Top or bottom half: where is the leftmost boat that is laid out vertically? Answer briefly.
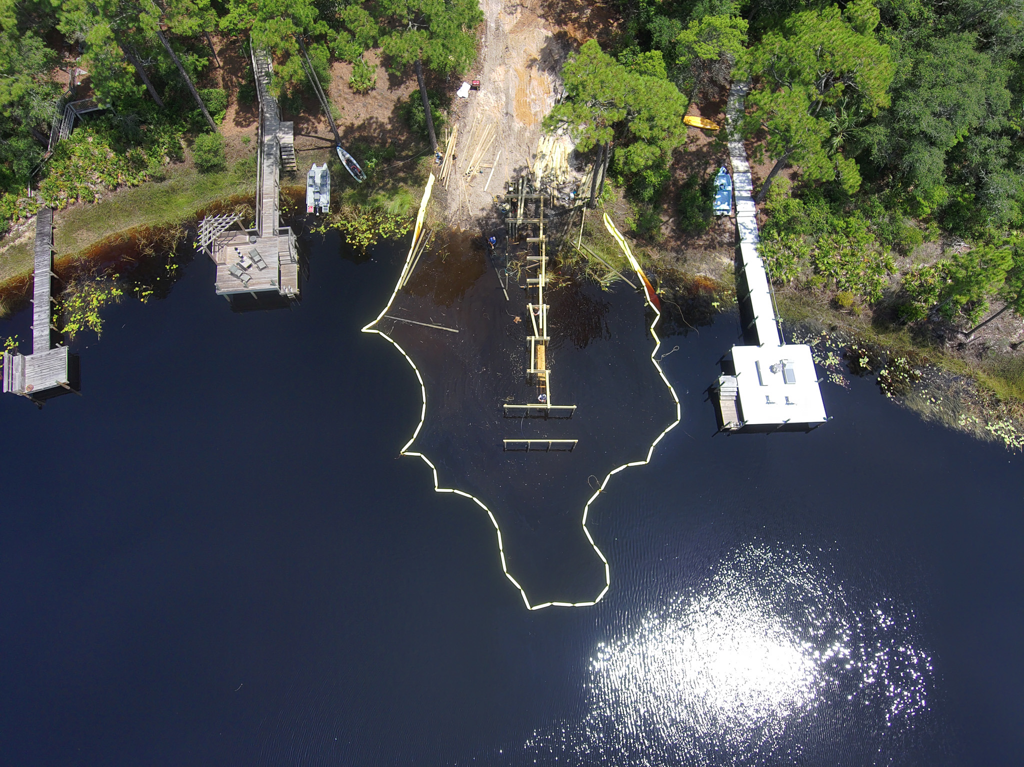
top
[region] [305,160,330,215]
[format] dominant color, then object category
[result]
white boat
